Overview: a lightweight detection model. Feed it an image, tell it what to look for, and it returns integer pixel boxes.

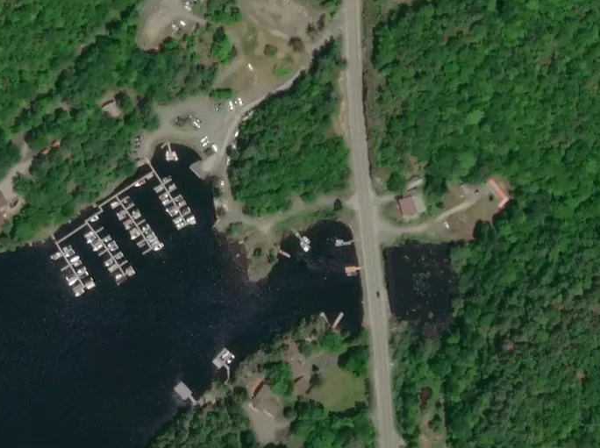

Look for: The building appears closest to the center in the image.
[398,196,418,222]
